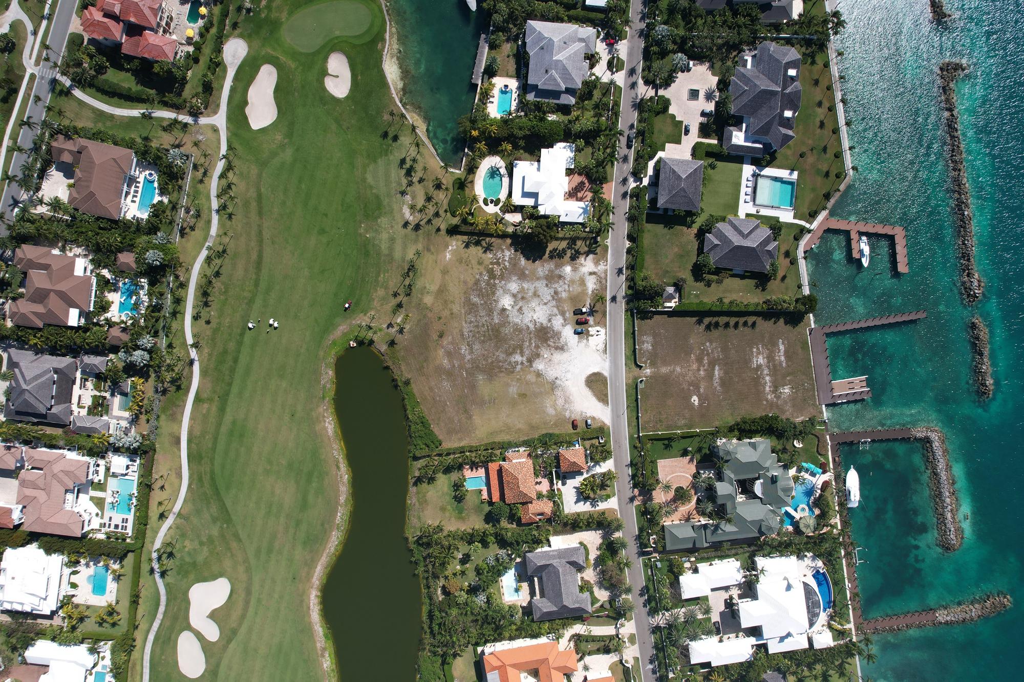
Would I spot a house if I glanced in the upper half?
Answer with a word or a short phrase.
Yes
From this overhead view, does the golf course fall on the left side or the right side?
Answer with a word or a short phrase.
left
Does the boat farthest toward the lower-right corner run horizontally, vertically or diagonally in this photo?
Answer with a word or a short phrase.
vertically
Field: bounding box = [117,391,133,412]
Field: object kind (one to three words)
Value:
swimming pool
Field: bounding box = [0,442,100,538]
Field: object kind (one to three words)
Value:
house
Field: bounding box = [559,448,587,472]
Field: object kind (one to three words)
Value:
building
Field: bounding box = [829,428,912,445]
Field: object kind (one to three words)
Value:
pier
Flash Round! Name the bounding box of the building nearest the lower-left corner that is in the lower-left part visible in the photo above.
[24,637,100,682]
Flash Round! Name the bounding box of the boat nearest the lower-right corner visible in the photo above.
[845,457,867,513]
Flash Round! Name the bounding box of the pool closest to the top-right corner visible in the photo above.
[753,176,798,209]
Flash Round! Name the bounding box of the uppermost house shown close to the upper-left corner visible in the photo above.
[80,0,187,64]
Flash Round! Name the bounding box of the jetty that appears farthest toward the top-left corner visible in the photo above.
[472,34,488,84]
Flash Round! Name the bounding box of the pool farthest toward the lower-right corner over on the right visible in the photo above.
[812,569,833,613]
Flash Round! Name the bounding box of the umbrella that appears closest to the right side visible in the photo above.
[799,516,816,532]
